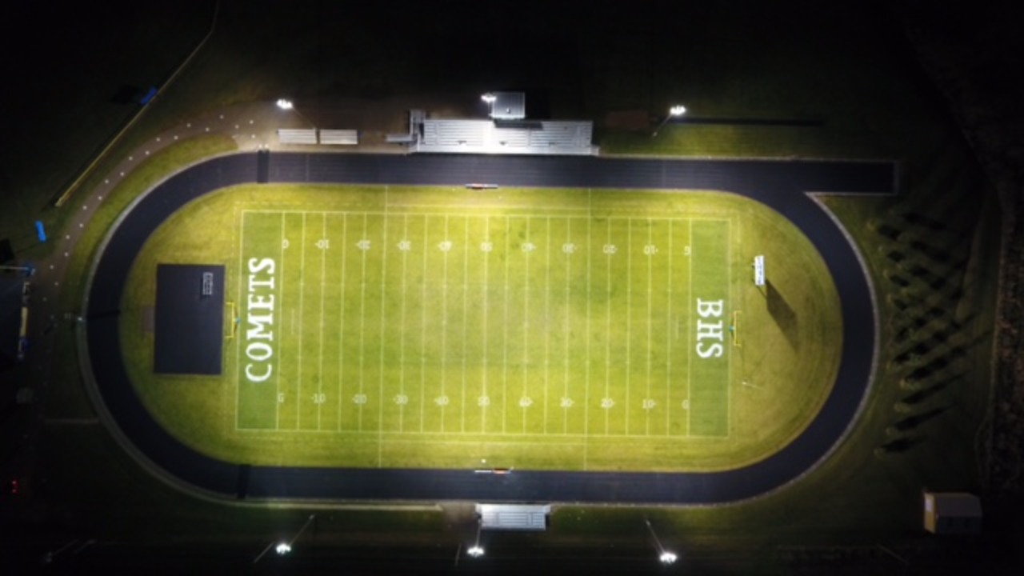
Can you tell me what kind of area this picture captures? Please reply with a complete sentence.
This looks like a sports ground.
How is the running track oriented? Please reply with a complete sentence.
Seen from above, the running track lies from side to side.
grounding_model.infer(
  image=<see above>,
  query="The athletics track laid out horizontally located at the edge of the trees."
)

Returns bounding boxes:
[87,151,895,504]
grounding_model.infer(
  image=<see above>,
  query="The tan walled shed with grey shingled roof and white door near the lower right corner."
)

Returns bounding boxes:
[927,490,981,533]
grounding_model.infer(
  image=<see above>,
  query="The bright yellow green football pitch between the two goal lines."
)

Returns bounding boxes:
[278,212,690,436]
